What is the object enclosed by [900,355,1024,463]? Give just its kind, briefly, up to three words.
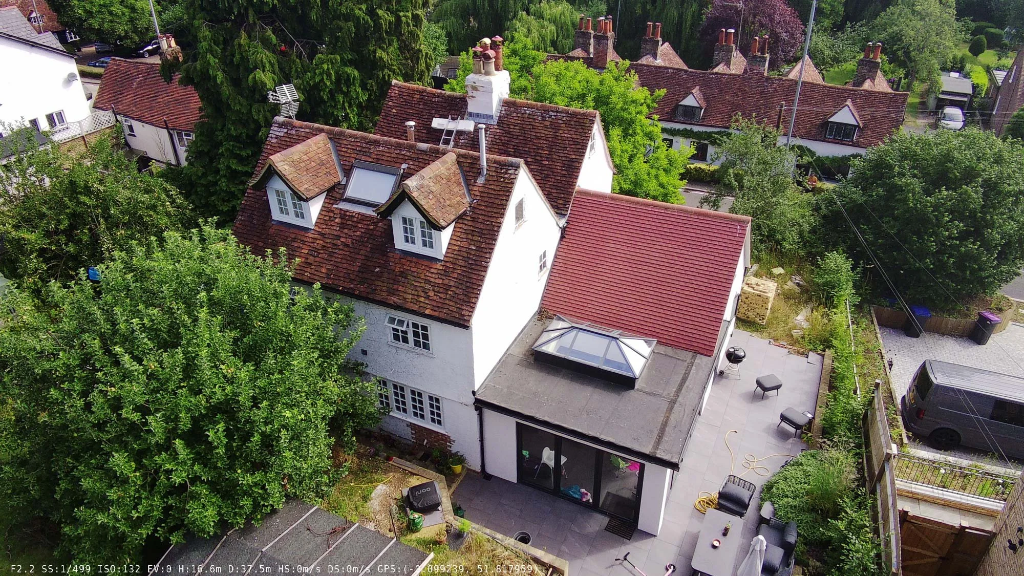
van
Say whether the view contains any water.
No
